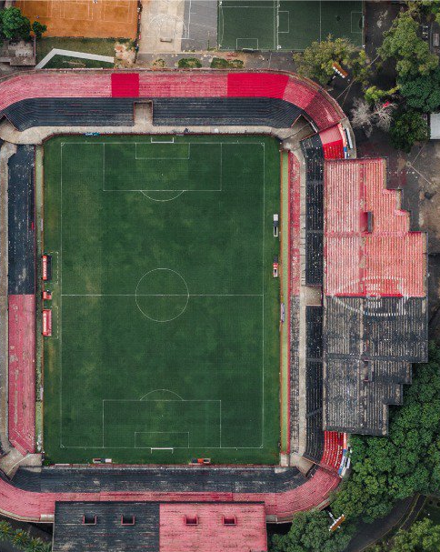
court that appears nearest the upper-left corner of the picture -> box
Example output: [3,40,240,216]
[16,0,56,37]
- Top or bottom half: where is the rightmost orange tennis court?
top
